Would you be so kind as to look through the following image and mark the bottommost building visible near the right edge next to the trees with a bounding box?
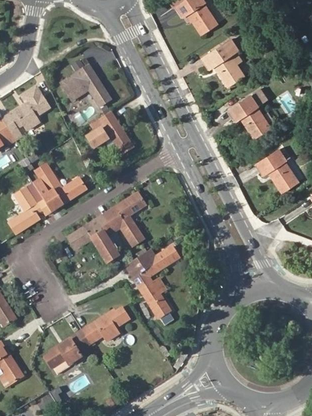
[254,150,299,194]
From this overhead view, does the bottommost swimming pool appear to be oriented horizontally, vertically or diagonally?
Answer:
diagonally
